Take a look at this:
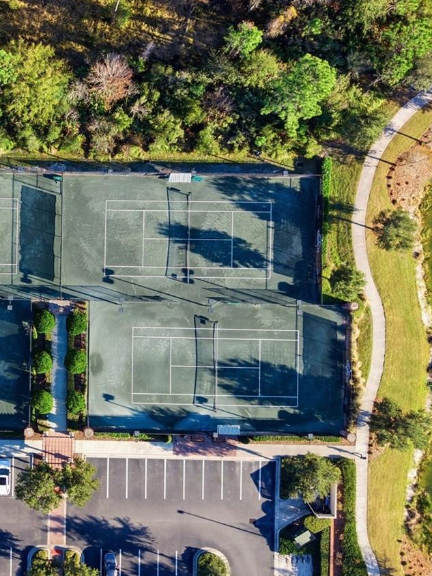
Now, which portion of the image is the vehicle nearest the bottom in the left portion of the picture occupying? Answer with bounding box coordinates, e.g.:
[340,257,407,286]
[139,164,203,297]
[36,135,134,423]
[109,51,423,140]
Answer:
[103,553,121,576]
